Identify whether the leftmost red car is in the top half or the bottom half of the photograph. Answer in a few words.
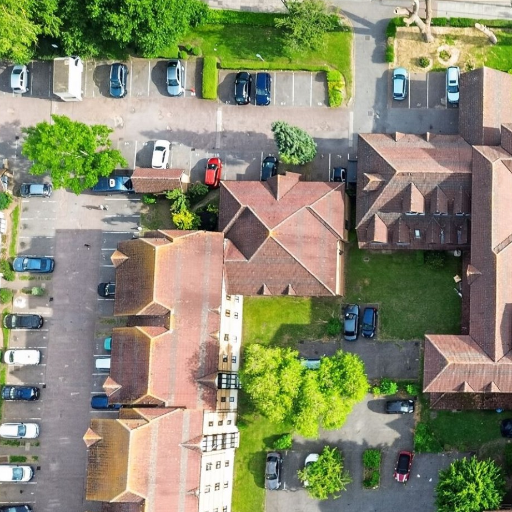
top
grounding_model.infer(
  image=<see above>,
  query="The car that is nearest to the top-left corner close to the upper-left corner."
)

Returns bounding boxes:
[9,64,32,97]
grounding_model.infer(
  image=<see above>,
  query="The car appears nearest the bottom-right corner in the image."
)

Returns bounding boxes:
[395,450,413,480]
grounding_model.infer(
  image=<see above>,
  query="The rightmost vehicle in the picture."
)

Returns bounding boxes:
[443,68,460,105]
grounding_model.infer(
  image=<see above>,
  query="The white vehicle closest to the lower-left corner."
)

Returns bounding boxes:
[0,464,37,484]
